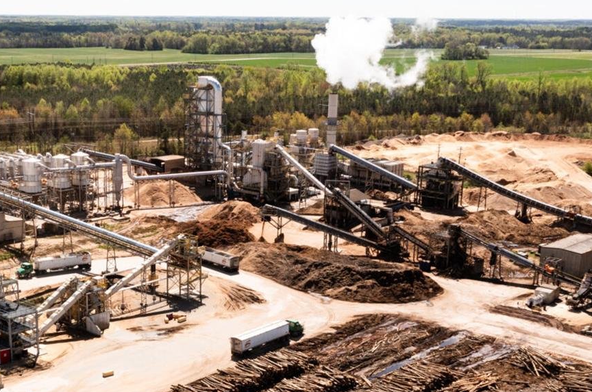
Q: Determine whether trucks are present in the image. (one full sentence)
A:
Yes, this view includes a truck.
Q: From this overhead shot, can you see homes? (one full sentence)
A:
Yes, the image includes a home.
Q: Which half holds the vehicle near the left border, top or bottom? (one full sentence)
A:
The bottom half of the photo is where the vehicle near the left border is.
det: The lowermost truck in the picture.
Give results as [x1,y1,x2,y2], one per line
[229,320,301,353]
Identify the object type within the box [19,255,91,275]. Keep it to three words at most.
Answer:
vehicle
